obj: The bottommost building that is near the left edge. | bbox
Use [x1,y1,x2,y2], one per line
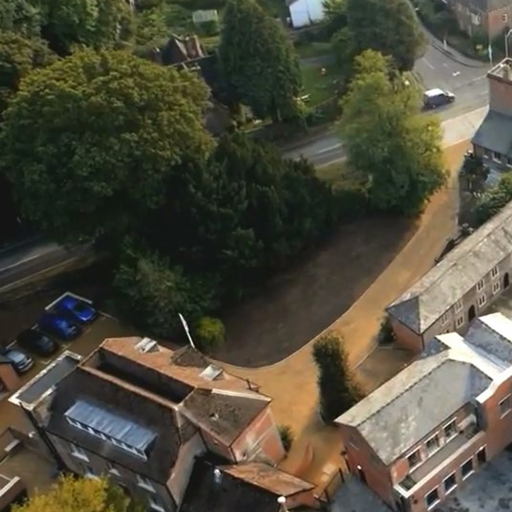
[0,469,31,512]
